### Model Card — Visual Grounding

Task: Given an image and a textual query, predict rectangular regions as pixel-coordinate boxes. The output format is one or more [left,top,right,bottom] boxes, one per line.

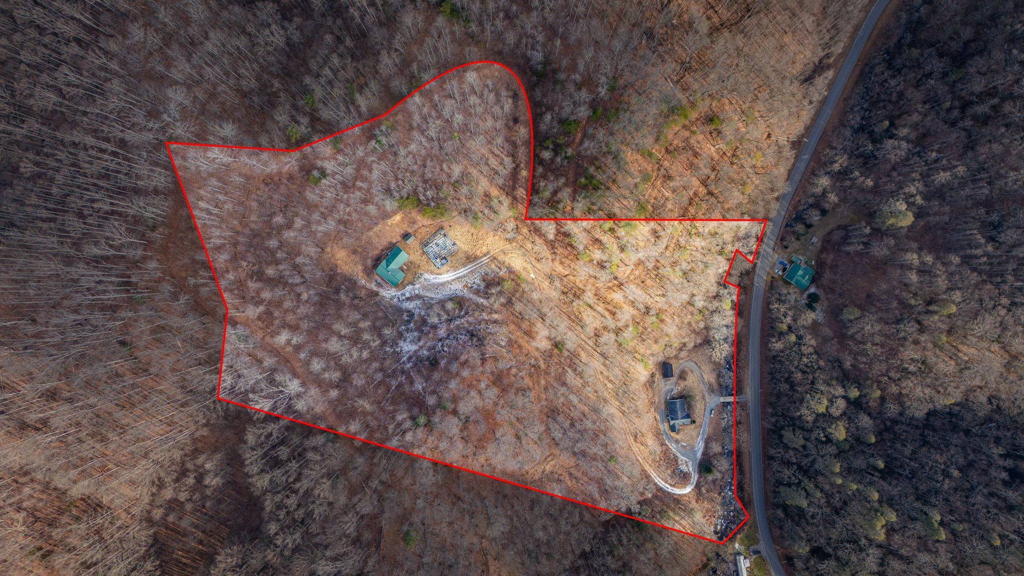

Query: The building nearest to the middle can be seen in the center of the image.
[421,227,460,269]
